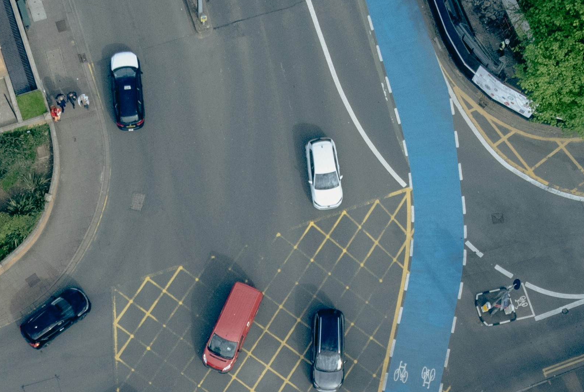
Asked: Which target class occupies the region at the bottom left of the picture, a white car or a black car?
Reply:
black car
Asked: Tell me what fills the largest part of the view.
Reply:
paved ground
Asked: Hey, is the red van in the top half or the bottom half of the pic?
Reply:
bottom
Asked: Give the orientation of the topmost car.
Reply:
up and down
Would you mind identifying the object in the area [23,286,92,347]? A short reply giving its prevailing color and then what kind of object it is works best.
black car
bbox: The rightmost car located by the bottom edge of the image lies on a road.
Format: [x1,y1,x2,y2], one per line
[309,309,349,392]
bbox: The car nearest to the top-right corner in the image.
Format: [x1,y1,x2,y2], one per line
[305,136,346,213]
